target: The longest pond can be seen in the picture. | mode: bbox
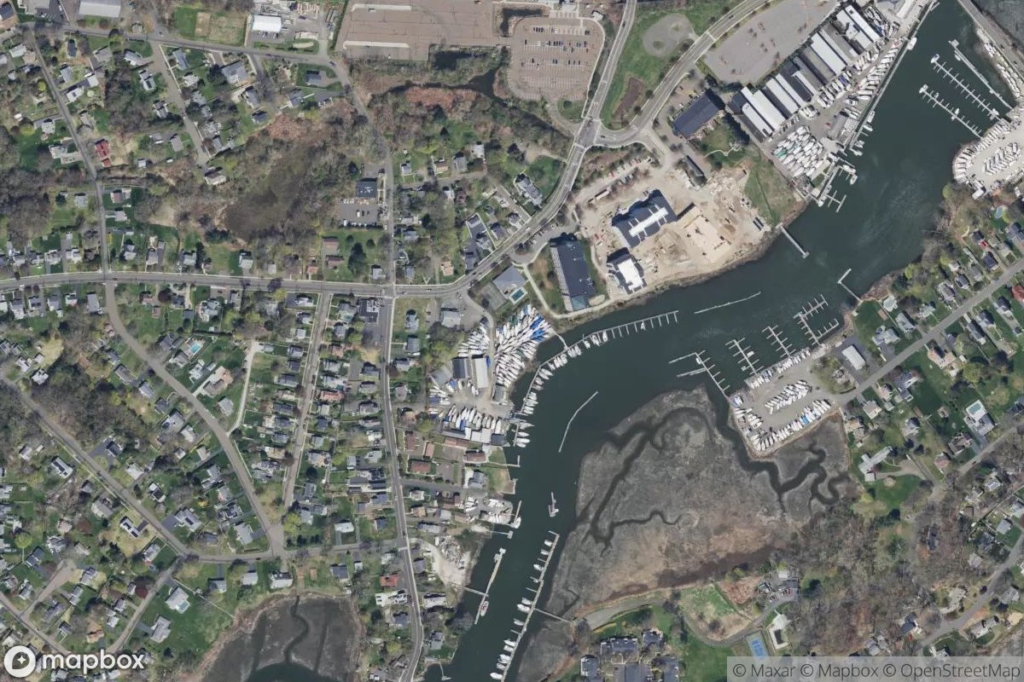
[366,52,572,143]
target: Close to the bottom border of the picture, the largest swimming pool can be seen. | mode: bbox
[768,628,789,651]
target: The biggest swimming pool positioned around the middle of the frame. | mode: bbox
[509,286,529,304]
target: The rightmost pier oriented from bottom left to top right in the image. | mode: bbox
[852,0,945,147]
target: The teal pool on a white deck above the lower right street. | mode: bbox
[965,399,988,422]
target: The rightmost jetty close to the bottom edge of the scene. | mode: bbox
[502,530,575,682]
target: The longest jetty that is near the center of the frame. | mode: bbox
[520,310,679,412]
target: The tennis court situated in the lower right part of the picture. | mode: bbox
[746,632,770,668]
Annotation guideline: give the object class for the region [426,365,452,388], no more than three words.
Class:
house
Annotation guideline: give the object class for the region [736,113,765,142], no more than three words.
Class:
shed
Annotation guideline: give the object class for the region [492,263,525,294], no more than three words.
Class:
building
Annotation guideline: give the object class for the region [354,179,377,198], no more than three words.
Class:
building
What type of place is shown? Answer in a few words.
residential area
